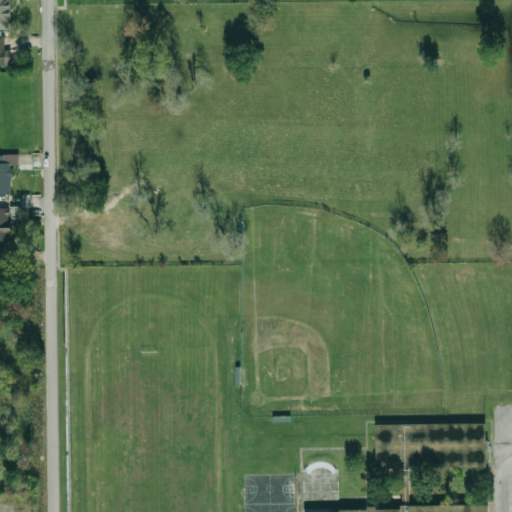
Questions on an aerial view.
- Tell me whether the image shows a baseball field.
Yes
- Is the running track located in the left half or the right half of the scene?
left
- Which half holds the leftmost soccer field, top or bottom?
bottom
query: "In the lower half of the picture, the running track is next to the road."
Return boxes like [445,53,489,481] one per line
[80,292,224,512]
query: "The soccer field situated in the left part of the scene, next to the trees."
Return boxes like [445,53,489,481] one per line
[89,300,215,512]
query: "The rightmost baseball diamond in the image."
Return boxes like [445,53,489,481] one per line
[242,204,444,416]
